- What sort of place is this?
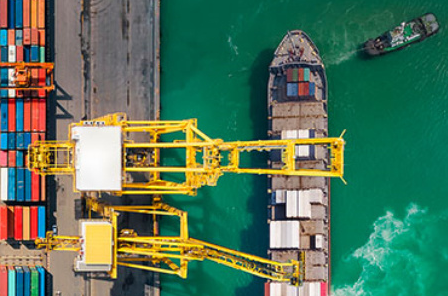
port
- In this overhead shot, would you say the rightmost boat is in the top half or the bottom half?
top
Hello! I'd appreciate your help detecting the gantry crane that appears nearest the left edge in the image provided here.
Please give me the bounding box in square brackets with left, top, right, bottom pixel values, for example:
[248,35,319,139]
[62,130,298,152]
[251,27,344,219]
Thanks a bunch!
[0,61,54,99]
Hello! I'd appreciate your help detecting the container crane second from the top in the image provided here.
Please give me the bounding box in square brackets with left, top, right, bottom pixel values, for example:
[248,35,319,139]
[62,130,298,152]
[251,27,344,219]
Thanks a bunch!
[29,109,355,197]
